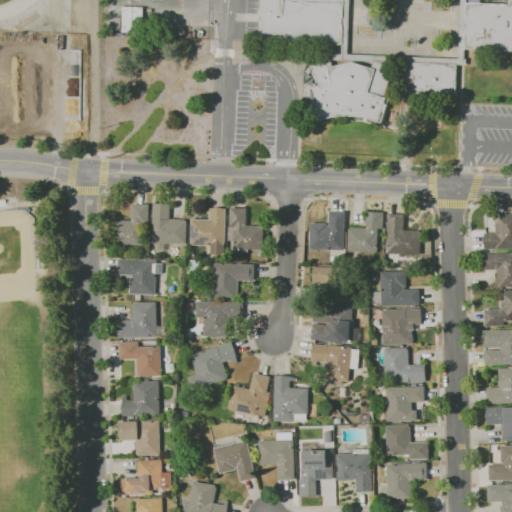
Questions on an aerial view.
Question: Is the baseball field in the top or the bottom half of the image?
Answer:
bottom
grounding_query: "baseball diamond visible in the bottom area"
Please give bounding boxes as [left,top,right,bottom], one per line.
[0,209,44,512]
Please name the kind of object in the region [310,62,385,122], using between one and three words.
building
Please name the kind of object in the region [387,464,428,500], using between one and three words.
house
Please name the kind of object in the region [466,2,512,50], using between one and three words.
building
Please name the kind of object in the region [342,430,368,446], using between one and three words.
swimming pool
